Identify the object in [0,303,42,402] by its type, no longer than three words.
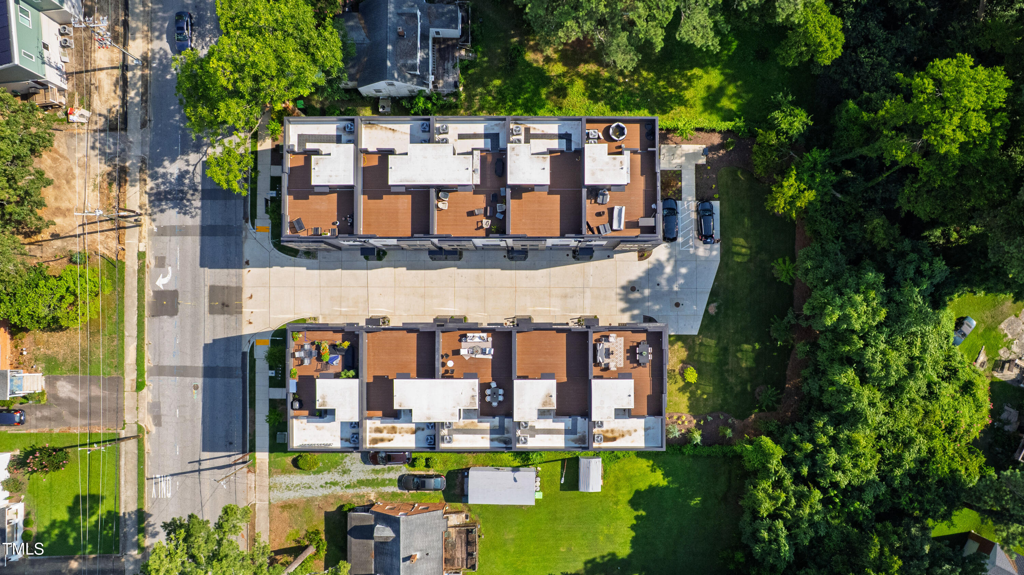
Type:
house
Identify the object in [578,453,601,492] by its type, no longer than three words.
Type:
shed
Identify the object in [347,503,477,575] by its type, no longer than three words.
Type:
house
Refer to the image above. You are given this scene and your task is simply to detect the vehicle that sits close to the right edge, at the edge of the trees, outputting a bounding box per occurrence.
[943,312,980,349]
